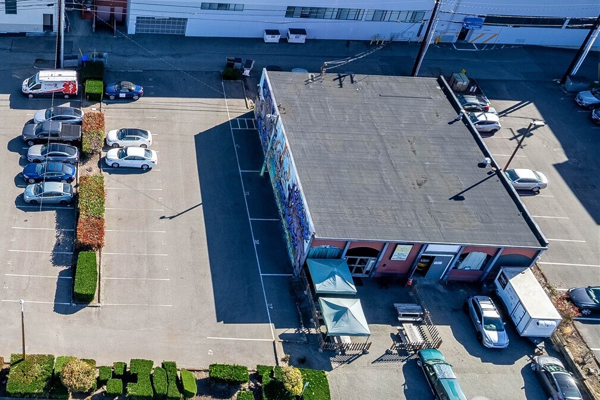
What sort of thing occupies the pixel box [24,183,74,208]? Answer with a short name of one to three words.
car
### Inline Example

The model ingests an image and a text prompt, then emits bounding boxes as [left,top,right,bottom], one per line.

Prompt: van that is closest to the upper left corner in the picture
[22,69,78,99]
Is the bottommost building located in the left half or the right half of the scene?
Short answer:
right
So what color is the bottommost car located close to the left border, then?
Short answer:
blue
